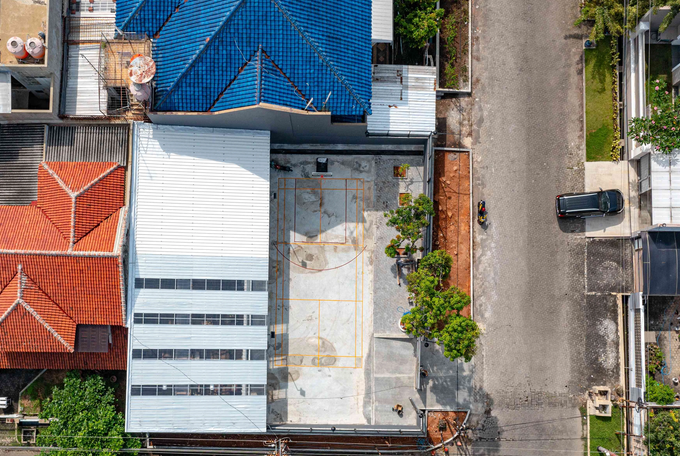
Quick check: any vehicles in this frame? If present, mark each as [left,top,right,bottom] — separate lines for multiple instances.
[479,199,490,225]
[559,185,626,220]
[270,155,294,169]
